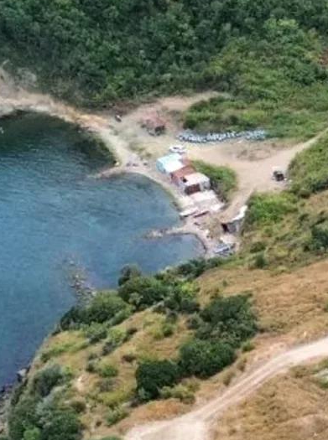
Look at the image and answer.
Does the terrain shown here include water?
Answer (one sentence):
Yes, some water is visible.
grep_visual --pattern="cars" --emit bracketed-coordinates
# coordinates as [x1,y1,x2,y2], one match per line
[275,167,283,179]
[170,145,187,154]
